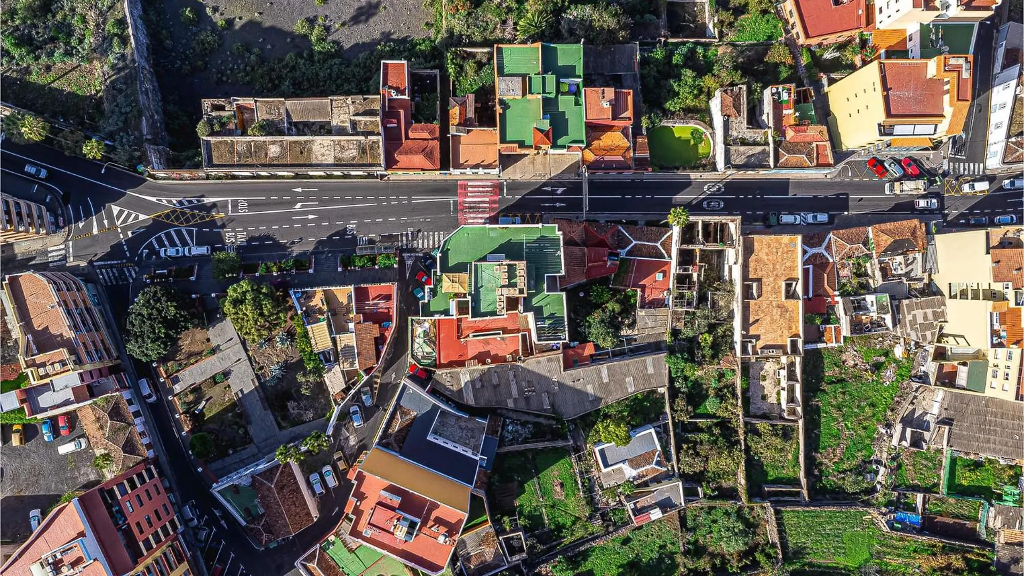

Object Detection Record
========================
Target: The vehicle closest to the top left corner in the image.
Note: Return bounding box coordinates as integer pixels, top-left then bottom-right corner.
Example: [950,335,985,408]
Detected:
[24,163,50,178]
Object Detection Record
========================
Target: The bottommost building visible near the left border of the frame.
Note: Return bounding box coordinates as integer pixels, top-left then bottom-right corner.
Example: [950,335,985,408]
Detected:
[0,460,203,576]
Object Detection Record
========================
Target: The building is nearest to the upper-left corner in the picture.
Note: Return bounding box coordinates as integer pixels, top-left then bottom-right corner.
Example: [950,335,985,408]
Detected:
[0,192,51,246]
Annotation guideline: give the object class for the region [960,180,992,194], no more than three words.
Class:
vehicle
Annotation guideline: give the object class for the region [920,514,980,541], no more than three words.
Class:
shed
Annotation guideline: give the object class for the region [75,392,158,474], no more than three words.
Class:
house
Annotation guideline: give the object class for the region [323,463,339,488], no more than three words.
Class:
car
